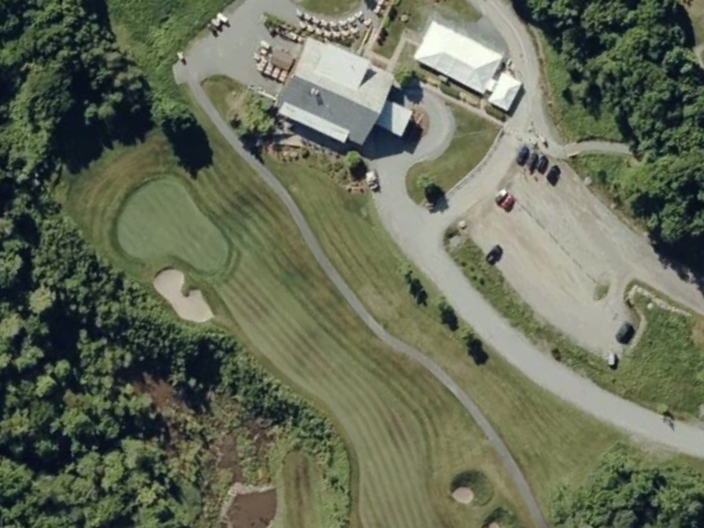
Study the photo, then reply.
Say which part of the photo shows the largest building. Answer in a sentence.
The largest building is located in the top region of the scene.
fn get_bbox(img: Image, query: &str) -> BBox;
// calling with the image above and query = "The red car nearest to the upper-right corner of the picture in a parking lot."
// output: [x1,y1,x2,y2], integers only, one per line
[501,194,515,210]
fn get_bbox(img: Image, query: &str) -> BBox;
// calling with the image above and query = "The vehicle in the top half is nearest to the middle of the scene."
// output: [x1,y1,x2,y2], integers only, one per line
[366,169,379,191]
